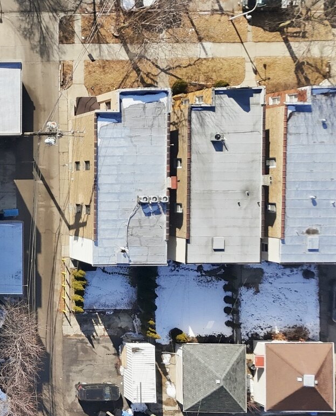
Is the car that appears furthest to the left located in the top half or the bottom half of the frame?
bottom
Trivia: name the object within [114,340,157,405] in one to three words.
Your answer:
shed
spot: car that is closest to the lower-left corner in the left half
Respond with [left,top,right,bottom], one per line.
[75,382,119,404]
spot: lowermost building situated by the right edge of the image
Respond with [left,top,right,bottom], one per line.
[252,341,336,413]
